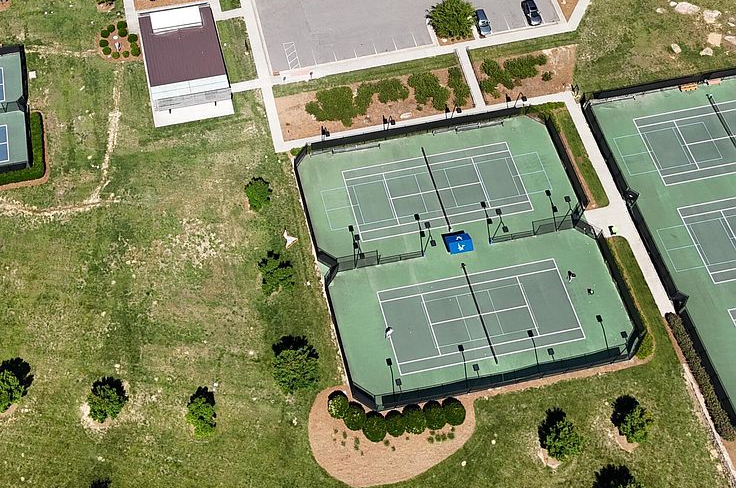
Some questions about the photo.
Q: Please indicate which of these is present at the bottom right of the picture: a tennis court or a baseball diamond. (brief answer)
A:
tennis court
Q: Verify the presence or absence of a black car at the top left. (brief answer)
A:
No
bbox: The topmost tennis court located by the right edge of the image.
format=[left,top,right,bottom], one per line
[587,77,736,205]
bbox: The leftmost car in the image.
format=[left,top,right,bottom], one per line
[473,9,492,37]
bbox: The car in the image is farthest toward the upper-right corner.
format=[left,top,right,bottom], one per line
[521,0,541,26]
